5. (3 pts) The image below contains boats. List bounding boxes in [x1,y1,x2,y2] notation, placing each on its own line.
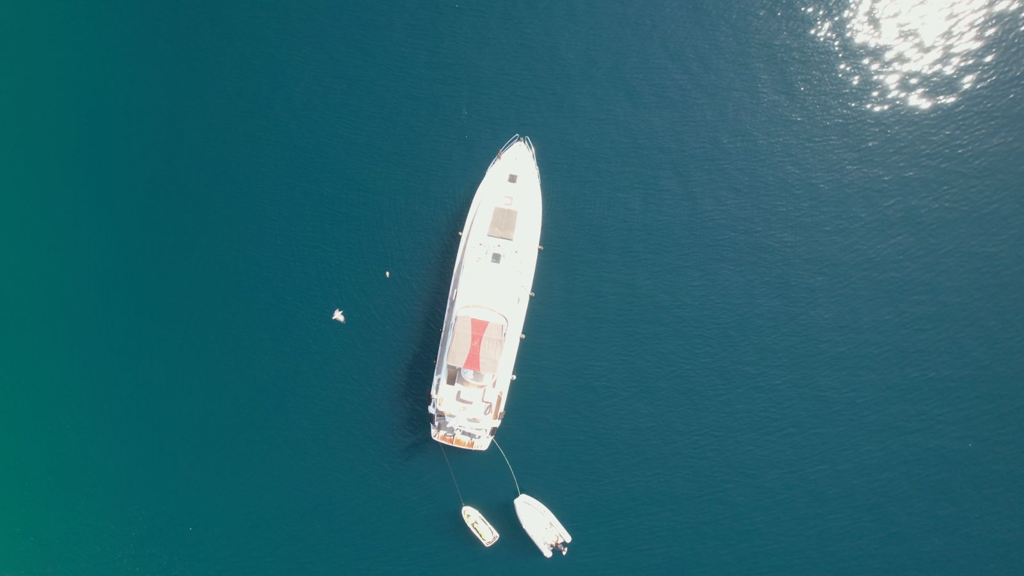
[514,495,572,558]
[428,134,541,451]
[463,506,500,547]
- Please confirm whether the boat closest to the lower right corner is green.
No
